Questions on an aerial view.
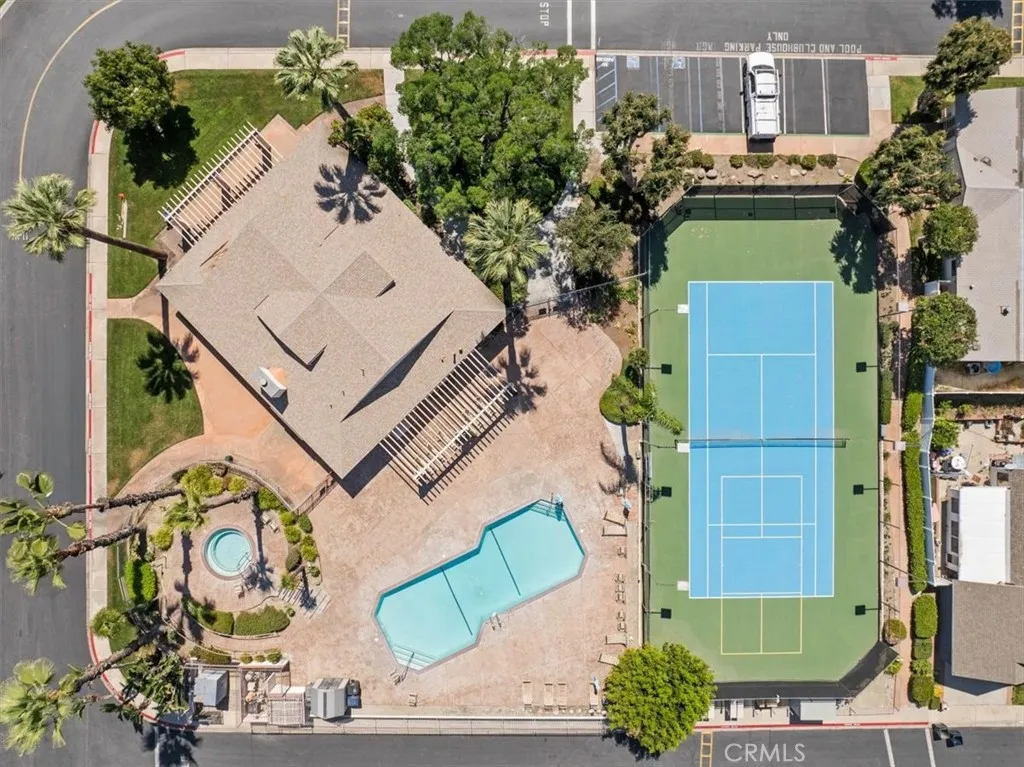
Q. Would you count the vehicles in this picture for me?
1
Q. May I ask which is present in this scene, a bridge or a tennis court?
tennis court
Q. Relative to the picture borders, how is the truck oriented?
from top to bottom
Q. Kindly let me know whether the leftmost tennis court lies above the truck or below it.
below it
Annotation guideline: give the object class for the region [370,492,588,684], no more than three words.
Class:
swimming pool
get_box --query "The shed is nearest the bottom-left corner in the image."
[311,679,352,722]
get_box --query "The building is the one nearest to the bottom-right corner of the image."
[933,573,1024,684]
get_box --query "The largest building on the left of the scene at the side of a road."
[154,121,509,477]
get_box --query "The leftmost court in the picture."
[652,198,877,681]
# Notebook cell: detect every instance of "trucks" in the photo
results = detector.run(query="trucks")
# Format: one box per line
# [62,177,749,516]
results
[742,54,781,140]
